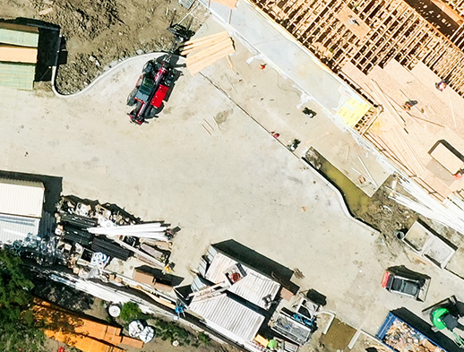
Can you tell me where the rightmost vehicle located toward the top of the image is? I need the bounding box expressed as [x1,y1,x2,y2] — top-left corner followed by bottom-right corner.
[125,26,182,118]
